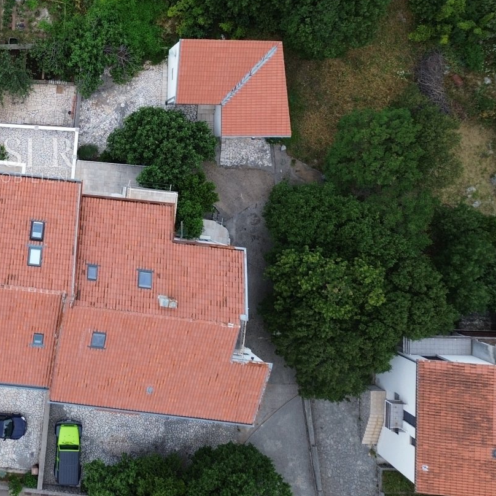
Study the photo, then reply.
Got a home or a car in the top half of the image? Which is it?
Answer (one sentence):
It is a home that can be seen in the top half of the image.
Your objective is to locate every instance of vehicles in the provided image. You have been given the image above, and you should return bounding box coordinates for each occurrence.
[0,410,28,441]
[53,423,84,489]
